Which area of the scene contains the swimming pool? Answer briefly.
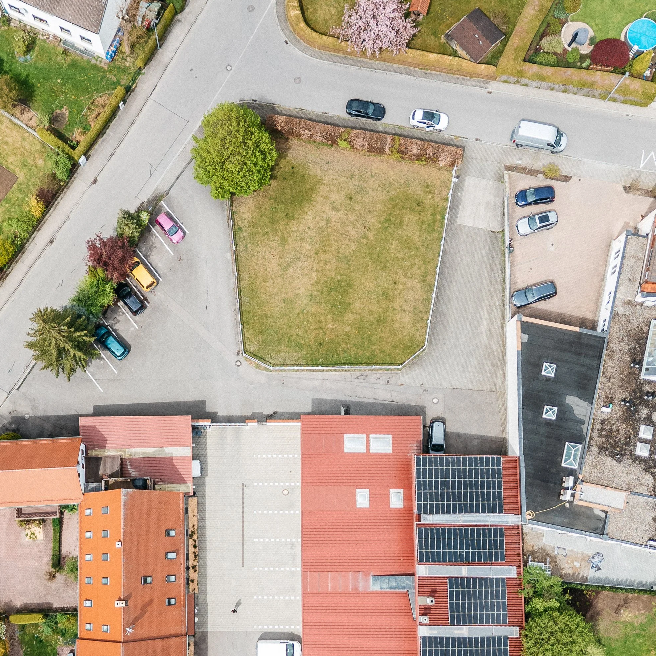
top right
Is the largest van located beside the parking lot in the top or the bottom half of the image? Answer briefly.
top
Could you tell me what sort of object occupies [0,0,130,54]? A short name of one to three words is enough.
house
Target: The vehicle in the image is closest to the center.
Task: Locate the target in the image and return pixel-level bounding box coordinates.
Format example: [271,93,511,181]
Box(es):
[427,419,448,453]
